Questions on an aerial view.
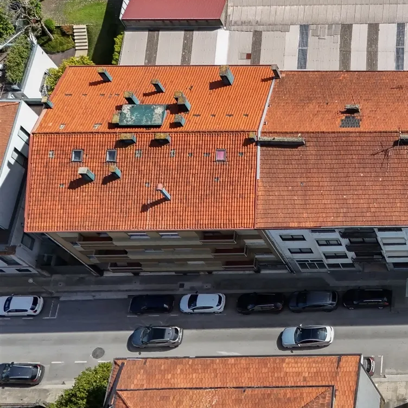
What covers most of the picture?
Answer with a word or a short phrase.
buildings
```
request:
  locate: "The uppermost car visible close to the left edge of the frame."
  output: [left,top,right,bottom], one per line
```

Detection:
[0,293,47,317]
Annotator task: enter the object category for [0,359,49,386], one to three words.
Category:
car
